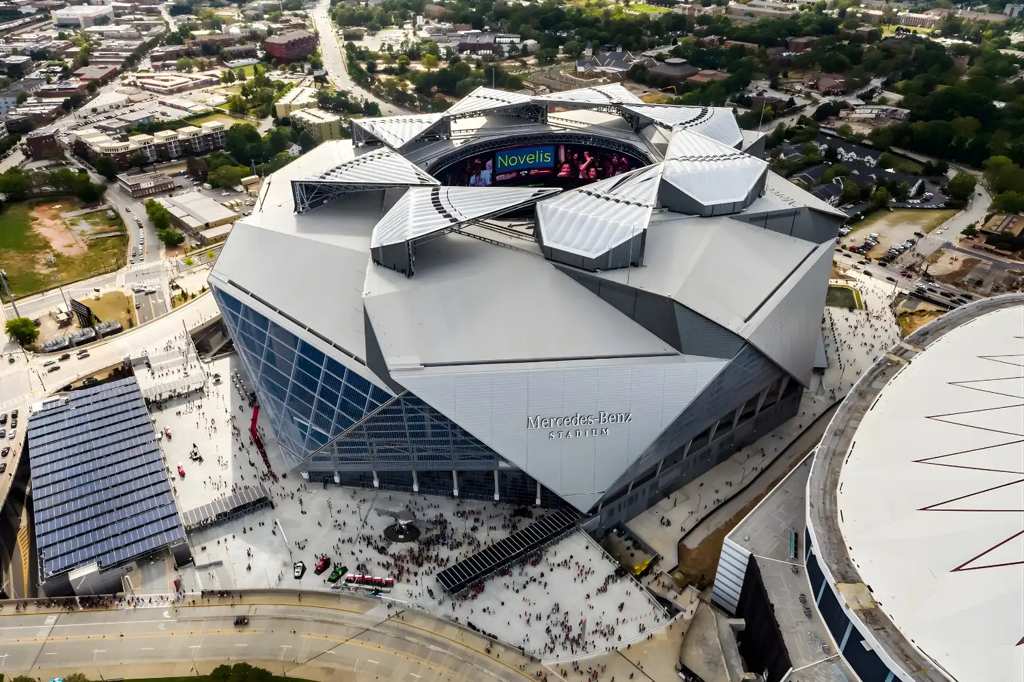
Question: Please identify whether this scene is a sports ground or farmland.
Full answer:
This image shows a sports ground.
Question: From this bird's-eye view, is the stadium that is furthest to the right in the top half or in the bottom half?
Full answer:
You can find the stadium that is furthest to the right in the bottom half.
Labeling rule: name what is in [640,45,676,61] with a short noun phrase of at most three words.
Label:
shed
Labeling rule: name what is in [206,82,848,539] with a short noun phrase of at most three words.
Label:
stadium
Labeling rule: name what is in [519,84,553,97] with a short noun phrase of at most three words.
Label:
house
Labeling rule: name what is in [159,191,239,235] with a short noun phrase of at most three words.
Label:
building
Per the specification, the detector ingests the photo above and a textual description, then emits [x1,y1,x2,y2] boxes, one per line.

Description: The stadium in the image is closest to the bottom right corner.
[714,293,1024,682]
